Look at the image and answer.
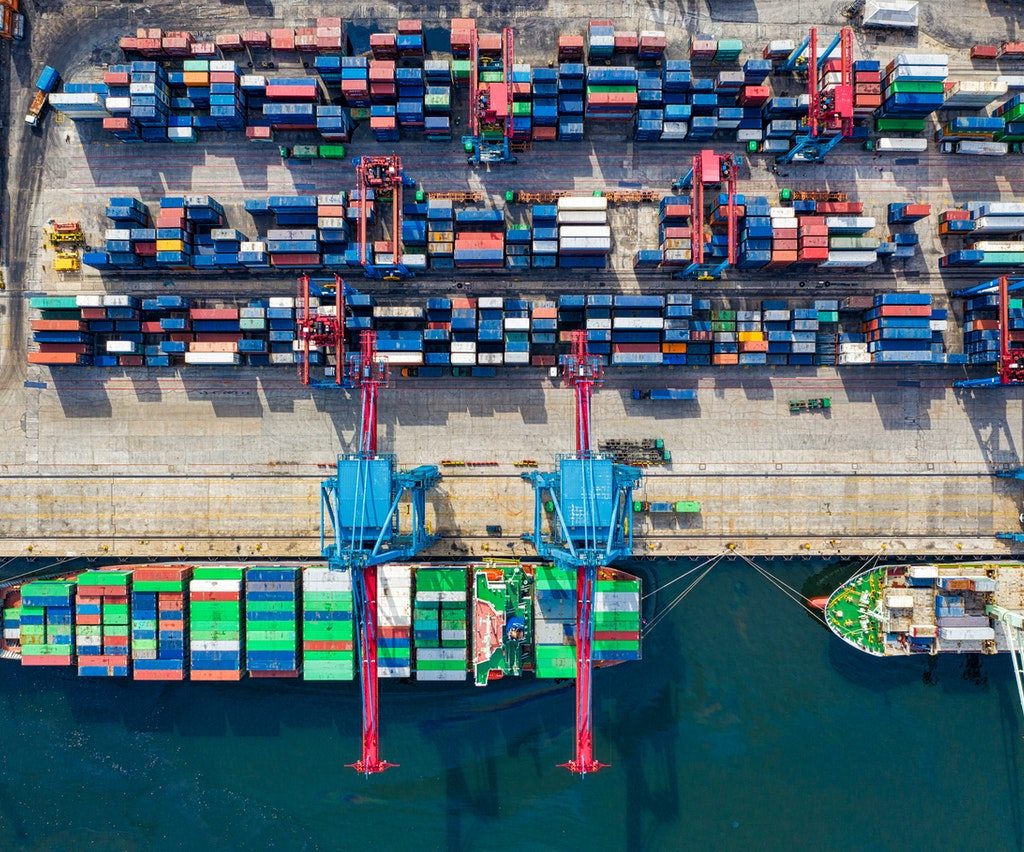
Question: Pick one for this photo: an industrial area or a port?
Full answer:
The area seen from above is a port.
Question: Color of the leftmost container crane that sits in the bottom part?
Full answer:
In this view, the leftmost container crane that sits in the bottom part is blue.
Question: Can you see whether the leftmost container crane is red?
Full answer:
Yes, the leftmost container crane is red.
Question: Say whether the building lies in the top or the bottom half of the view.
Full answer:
The building is in the top half of the image.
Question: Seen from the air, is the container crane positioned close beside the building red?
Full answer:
Yes, the container crane positioned close beside the building appears red.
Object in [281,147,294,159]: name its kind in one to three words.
vehicle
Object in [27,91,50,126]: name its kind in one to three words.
truck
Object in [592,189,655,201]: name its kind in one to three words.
vehicle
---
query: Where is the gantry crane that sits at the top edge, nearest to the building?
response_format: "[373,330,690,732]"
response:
[778,27,852,160]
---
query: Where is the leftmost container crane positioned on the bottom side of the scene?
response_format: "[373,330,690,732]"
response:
[323,332,444,781]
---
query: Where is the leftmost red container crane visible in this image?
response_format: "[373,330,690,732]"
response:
[299,274,363,388]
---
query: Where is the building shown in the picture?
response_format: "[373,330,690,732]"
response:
[861,0,919,28]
